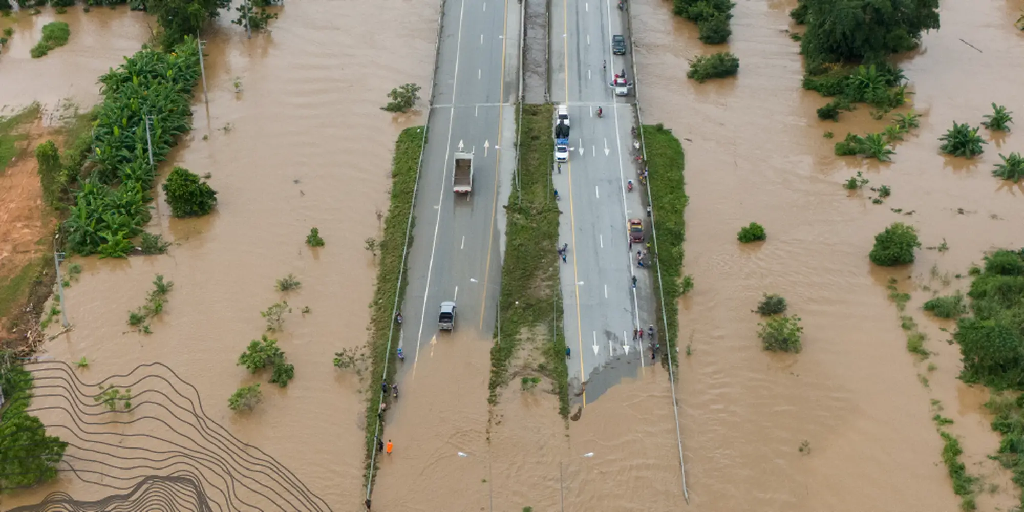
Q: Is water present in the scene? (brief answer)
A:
Yes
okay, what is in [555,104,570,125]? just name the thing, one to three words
vehicle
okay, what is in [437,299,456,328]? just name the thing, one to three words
vehicle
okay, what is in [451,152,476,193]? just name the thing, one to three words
truck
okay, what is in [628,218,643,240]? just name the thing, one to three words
car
